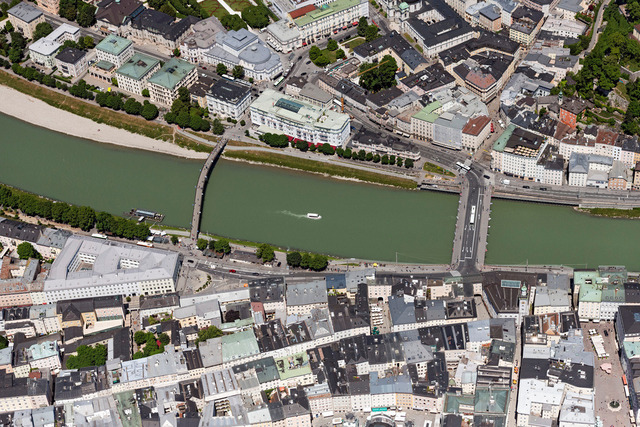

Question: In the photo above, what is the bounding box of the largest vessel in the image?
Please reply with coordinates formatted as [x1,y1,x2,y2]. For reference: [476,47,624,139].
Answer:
[129,208,166,222]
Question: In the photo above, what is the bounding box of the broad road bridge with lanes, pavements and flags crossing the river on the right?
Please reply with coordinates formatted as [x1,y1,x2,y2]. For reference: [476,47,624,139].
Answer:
[449,180,493,271]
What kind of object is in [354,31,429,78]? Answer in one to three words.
house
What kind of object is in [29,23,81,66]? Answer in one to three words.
building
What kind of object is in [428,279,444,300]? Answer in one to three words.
house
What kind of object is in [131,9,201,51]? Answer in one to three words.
building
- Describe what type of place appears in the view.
residential area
